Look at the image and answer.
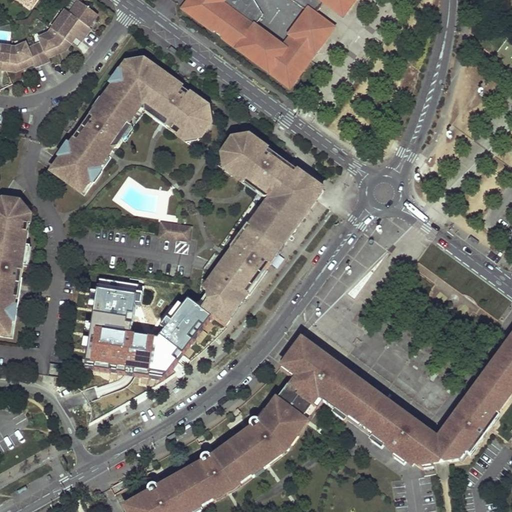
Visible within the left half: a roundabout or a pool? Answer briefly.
pool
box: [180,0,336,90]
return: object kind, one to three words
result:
building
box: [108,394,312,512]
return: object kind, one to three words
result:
house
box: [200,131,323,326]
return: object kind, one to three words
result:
house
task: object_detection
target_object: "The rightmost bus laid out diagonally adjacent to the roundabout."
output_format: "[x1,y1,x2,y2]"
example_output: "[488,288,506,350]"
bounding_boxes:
[404,198,430,224]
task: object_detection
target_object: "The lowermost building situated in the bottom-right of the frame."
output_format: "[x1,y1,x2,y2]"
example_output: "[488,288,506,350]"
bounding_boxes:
[278,330,512,480]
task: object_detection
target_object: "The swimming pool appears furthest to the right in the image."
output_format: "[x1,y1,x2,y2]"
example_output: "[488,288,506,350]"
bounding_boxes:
[112,176,178,222]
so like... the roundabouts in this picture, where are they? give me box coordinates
[358,164,410,216]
